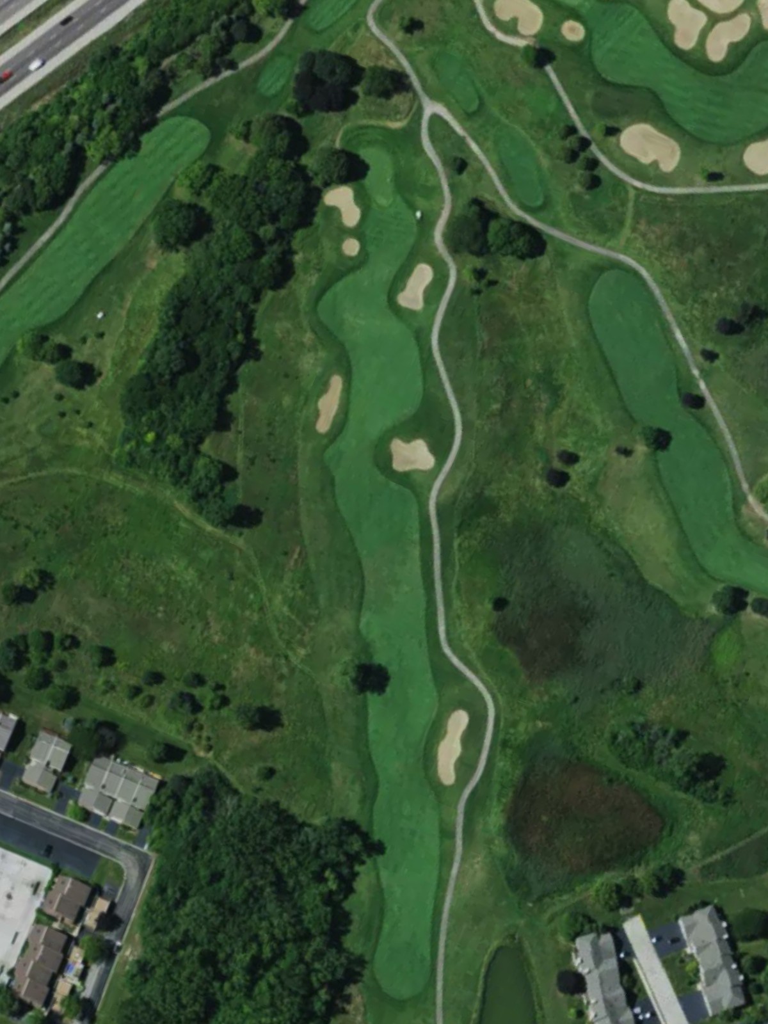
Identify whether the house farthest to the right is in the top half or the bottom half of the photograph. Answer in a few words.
bottom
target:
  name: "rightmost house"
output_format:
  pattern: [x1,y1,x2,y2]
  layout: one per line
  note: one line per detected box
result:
[678,906,750,1017]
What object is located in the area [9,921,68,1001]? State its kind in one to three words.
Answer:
house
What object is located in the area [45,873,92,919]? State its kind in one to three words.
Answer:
house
